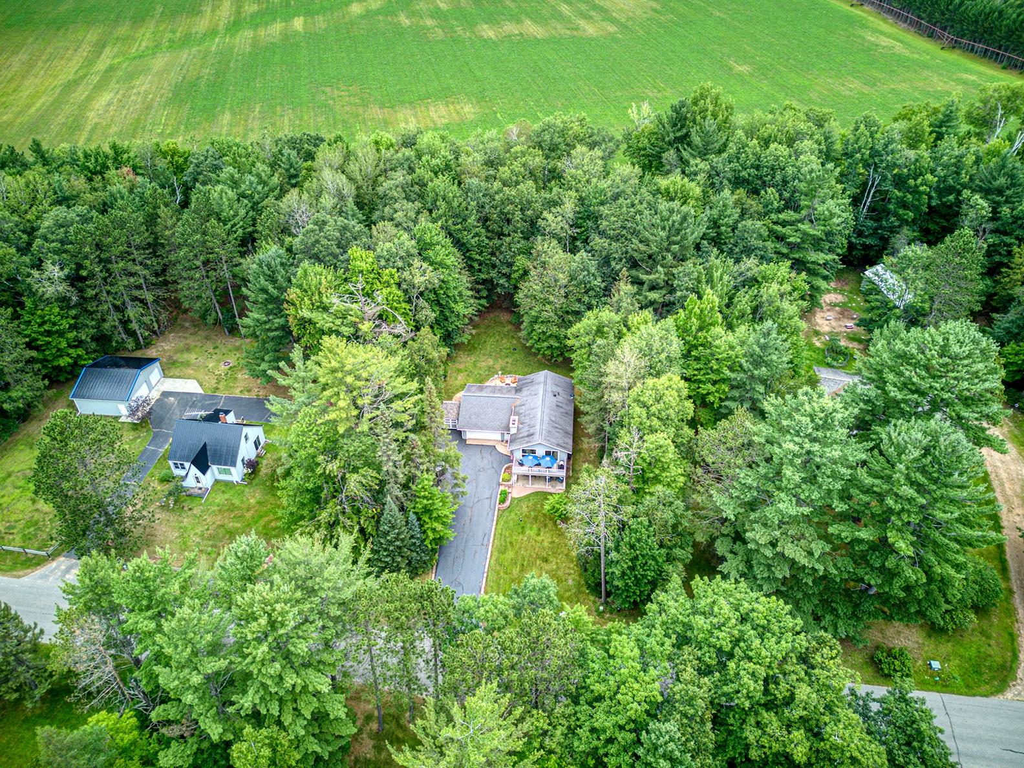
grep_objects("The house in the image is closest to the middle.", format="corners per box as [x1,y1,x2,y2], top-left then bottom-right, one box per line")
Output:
[433,371,576,489]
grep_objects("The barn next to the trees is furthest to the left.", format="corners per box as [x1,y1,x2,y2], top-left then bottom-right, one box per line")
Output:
[69,356,159,416]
